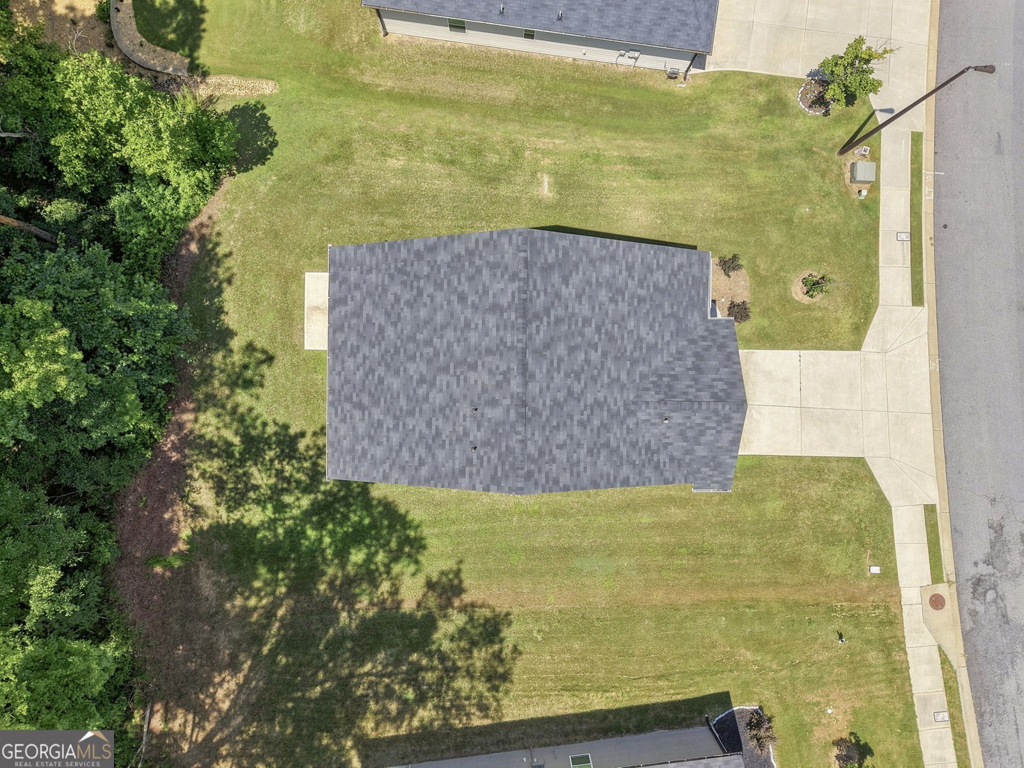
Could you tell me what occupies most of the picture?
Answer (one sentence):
The largest share of the image is taken up by grass.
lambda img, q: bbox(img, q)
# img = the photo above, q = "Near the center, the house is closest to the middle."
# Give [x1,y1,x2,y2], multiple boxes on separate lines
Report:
[325,229,748,496]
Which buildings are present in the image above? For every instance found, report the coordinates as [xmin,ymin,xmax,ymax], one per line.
[367,714,745,768]
[357,0,724,88]
[325,229,748,496]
